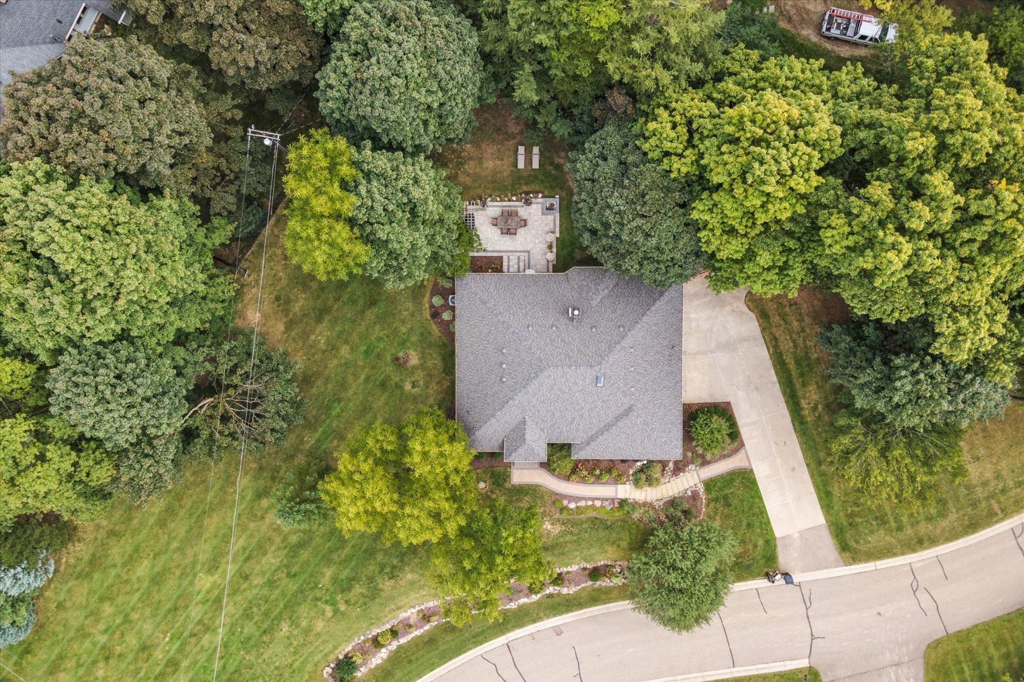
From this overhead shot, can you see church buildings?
No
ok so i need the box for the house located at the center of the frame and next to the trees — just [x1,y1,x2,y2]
[455,266,683,462]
